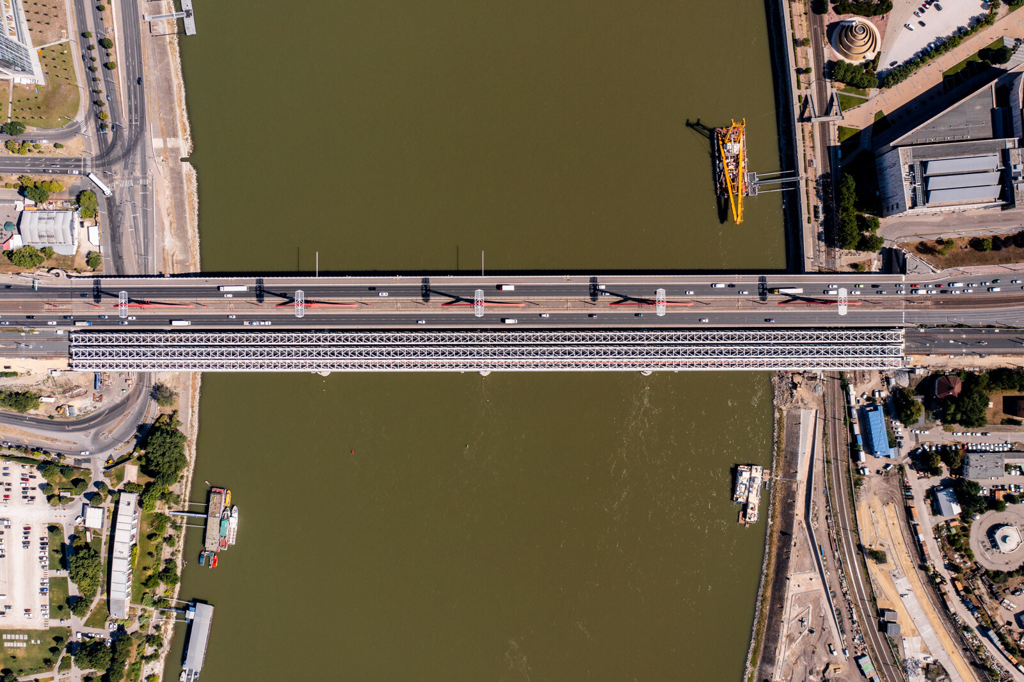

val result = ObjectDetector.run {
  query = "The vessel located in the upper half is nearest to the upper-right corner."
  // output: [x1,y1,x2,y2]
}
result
[714,117,748,226]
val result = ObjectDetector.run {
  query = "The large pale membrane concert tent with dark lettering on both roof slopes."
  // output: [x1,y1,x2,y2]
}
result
[19,210,80,256]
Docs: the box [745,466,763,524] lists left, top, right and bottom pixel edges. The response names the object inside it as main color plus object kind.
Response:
white ship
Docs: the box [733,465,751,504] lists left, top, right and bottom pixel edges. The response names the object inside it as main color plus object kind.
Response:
white ship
